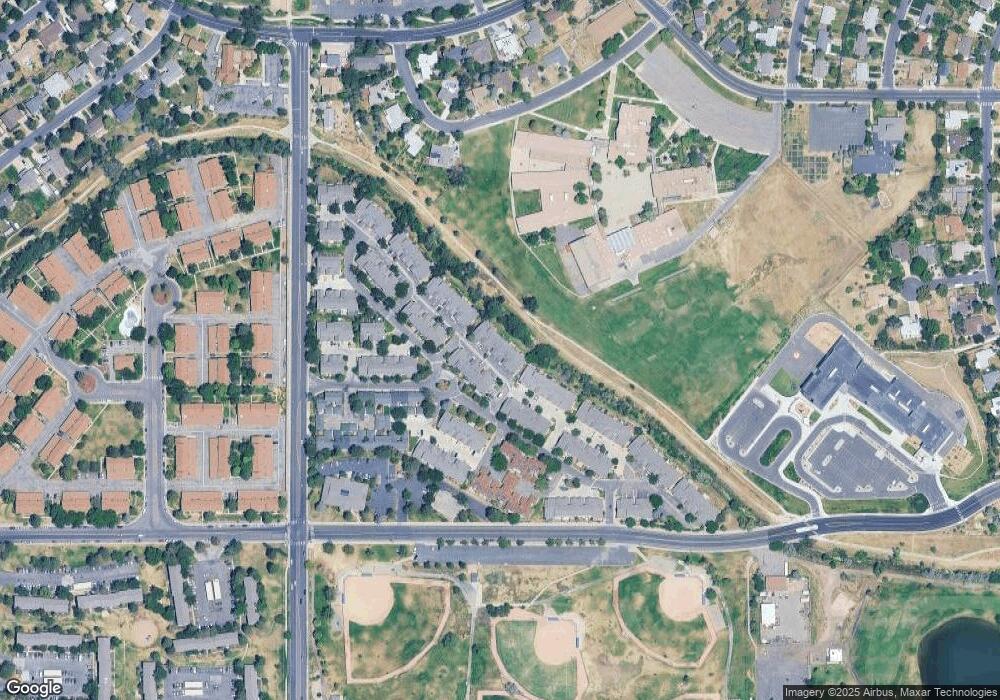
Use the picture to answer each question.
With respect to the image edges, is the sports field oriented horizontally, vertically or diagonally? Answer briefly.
diagonally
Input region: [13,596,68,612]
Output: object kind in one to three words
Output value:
building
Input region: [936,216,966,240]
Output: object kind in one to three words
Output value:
house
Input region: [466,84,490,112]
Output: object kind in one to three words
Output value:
house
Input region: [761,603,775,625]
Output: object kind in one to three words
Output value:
shed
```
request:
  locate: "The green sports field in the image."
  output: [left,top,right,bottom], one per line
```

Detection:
[446,128,782,438]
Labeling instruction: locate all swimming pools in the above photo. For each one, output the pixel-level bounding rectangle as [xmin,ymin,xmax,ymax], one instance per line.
[121,307,140,338]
